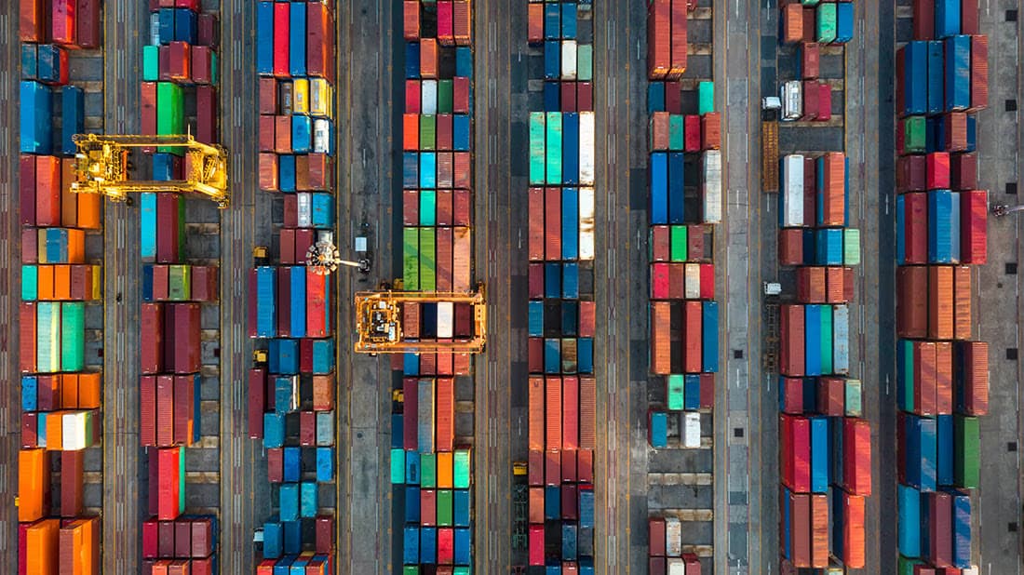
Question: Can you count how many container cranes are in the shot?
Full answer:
The picture shows 2 container cranes.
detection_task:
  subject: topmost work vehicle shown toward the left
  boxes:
[251,243,269,267]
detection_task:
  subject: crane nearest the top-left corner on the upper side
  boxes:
[70,132,230,206]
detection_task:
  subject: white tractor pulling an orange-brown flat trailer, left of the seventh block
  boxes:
[762,92,780,122]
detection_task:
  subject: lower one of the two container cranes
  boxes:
[355,288,485,354]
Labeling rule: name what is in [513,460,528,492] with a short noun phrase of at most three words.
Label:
work vehicle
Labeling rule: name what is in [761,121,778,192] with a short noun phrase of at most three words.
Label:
trailer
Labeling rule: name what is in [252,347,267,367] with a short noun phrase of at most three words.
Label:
work vehicle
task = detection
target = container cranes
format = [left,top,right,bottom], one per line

[70,132,230,206]
[355,288,485,354]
